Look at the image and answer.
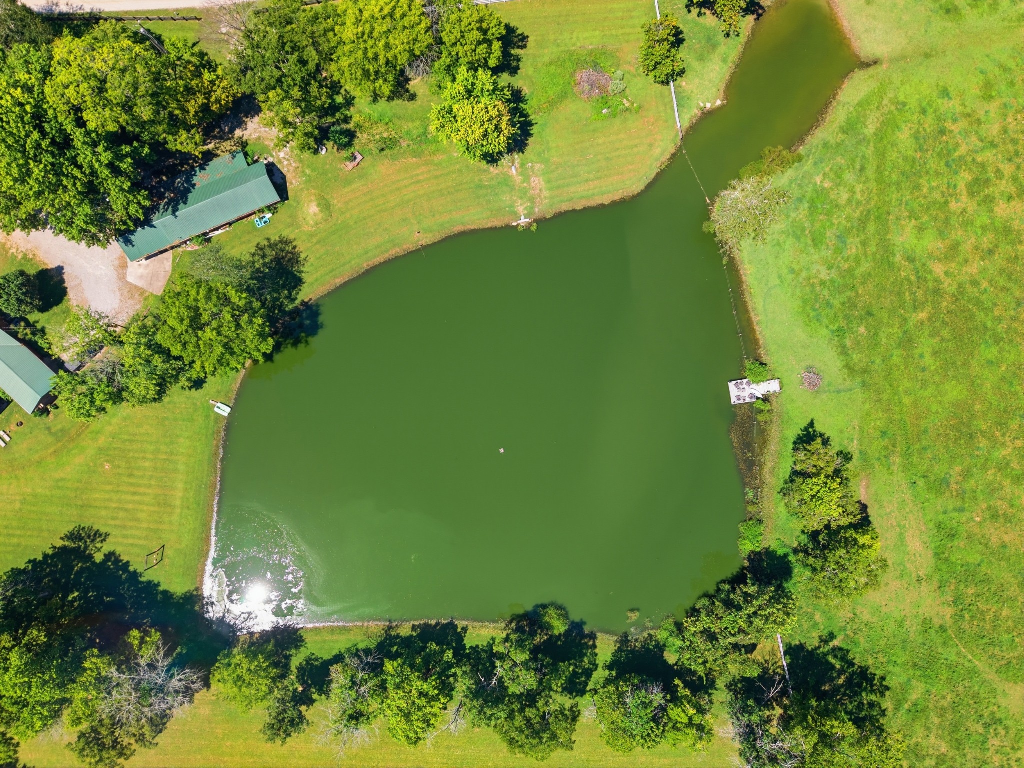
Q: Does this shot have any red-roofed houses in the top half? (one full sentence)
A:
No, the scene shows no red-roofed house in the top half.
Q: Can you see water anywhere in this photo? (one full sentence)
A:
Yes, the picture does contain water.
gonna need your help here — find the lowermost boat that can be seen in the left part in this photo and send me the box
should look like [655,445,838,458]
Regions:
[215,403,232,416]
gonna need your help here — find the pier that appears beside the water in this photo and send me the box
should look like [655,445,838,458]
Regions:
[727,379,781,405]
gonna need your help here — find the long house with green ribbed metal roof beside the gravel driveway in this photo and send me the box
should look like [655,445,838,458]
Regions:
[114,152,281,263]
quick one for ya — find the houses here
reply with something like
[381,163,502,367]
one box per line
[0,324,62,417]
[114,152,281,263]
